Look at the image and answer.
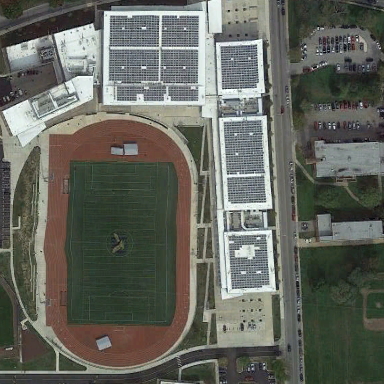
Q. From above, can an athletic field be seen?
Yes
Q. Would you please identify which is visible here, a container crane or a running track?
running track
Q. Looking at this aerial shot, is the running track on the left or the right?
left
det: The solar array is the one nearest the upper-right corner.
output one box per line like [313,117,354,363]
[221,45,258,89]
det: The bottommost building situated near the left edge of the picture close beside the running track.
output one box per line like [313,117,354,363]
[0,76,93,137]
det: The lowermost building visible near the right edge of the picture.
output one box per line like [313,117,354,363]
[313,214,384,241]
